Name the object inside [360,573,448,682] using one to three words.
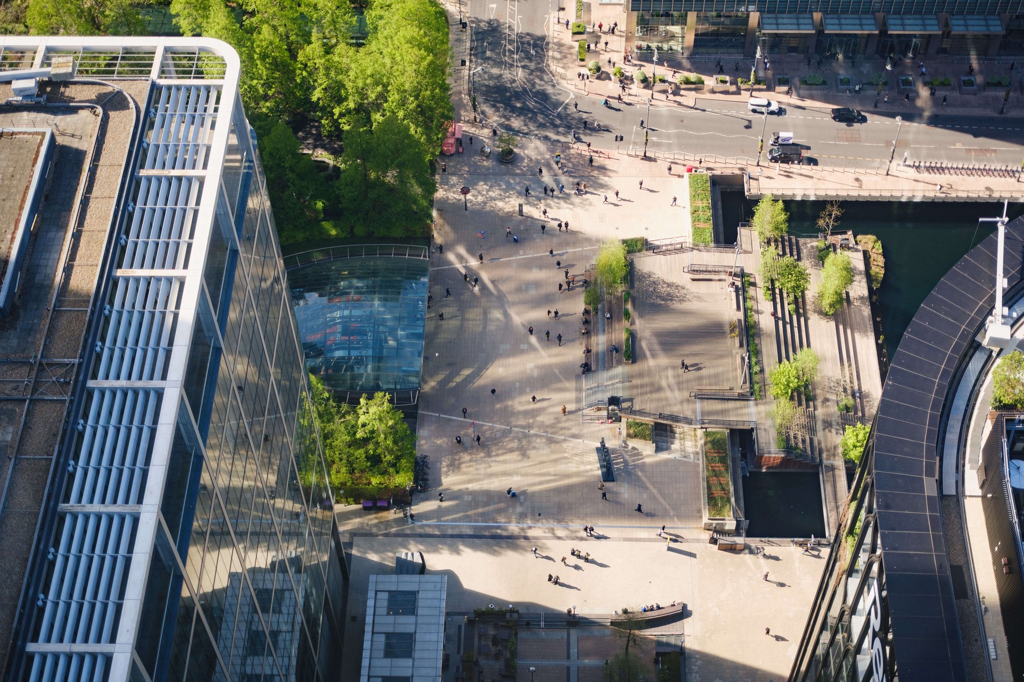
building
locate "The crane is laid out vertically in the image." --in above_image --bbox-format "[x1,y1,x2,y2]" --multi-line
[959,201,1020,374]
